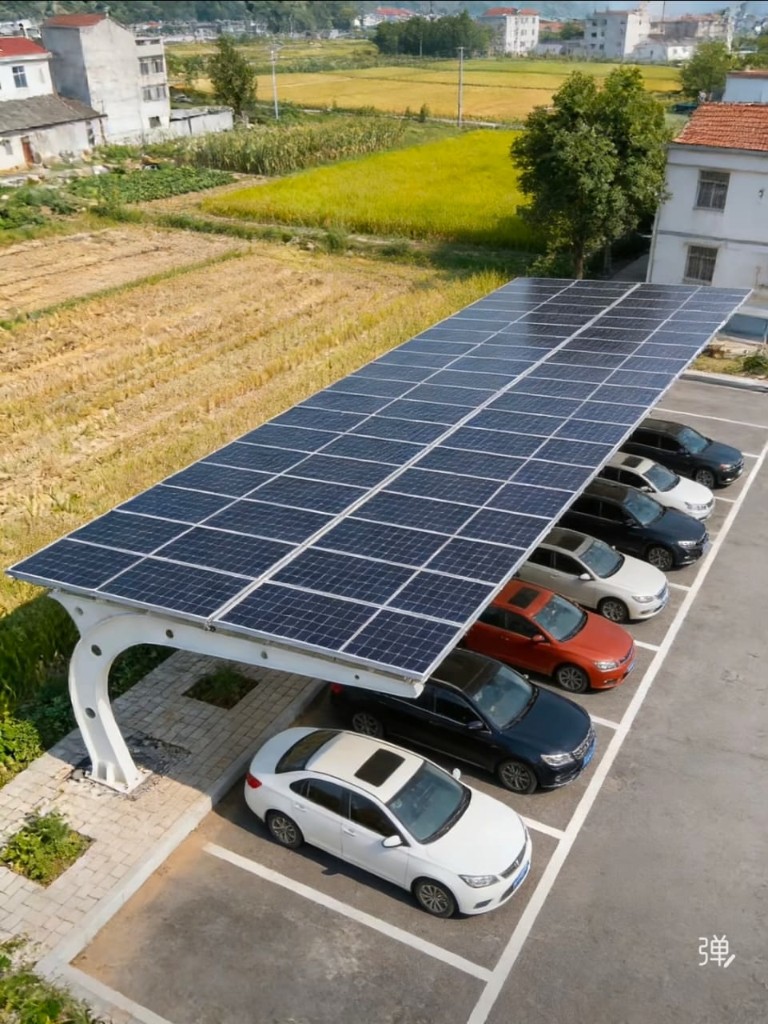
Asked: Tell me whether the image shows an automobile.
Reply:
Yes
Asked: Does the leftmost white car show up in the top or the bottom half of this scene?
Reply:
bottom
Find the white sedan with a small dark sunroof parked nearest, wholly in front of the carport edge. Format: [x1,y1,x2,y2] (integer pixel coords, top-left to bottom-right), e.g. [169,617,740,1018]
[248,732,530,917]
